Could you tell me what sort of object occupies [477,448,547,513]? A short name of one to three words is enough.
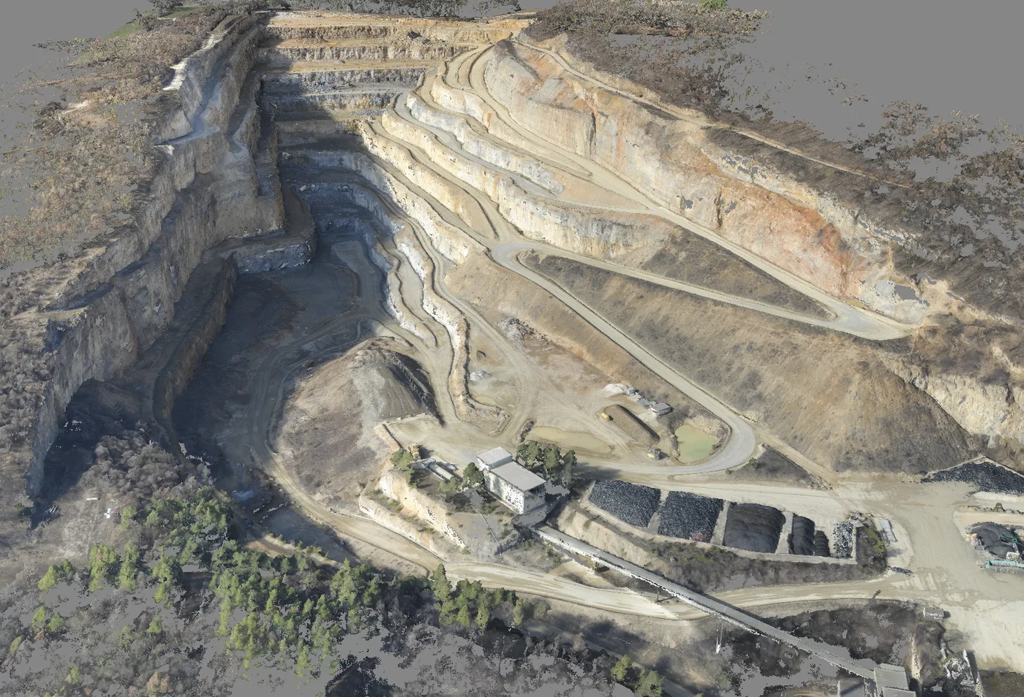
building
